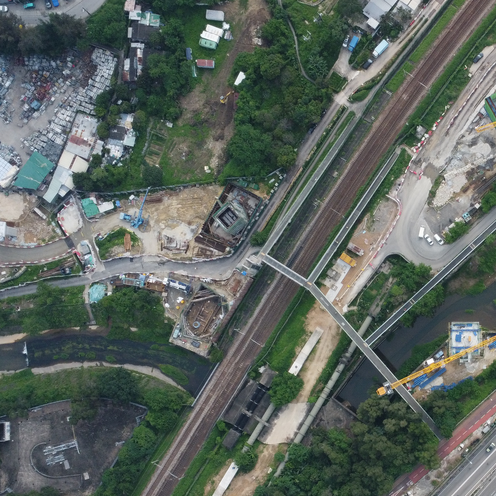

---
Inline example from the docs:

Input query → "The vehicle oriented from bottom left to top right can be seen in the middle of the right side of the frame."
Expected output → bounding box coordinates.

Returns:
[463,204,480,221]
